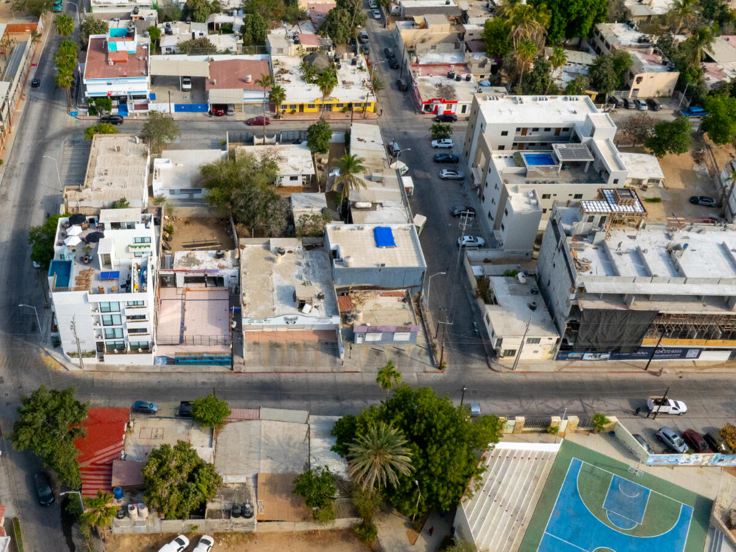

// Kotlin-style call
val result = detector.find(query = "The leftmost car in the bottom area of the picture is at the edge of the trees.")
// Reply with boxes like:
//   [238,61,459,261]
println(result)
[32,468,56,508]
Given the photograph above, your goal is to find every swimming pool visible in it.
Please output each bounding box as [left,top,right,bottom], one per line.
[523,154,553,165]
[51,262,70,288]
